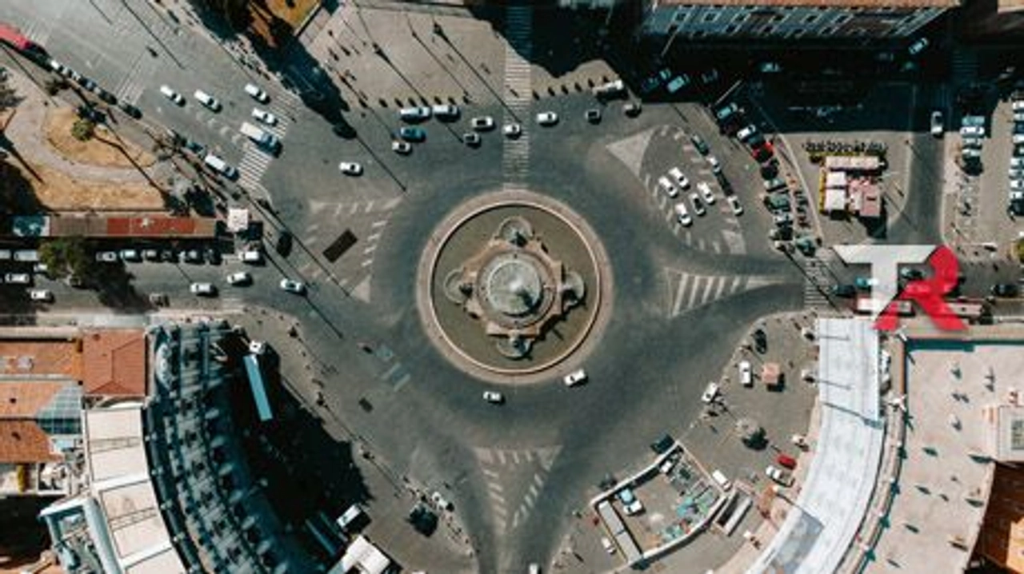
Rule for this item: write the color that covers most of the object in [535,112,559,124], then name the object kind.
white vehicle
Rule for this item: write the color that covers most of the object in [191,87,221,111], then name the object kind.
white vehicle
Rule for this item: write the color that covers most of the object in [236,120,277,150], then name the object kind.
white truck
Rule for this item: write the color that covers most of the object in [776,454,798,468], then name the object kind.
red car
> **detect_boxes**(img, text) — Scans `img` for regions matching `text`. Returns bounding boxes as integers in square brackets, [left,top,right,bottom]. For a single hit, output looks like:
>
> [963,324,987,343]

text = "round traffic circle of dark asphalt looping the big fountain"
[338,108,694,464]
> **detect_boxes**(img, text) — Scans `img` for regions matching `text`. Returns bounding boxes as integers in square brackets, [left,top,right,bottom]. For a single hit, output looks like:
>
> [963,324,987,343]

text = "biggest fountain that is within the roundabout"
[428,198,604,374]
